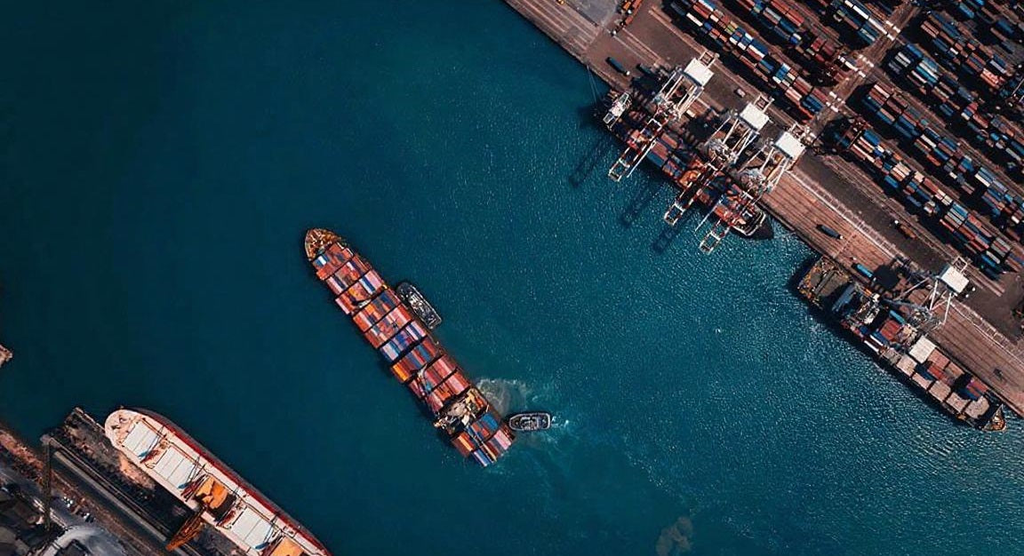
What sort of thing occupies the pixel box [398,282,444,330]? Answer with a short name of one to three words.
boat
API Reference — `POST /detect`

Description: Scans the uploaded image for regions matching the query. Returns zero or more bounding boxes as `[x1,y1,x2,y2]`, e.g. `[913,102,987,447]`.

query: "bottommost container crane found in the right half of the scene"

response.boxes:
[879,251,975,322]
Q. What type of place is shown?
port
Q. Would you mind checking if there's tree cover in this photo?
No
